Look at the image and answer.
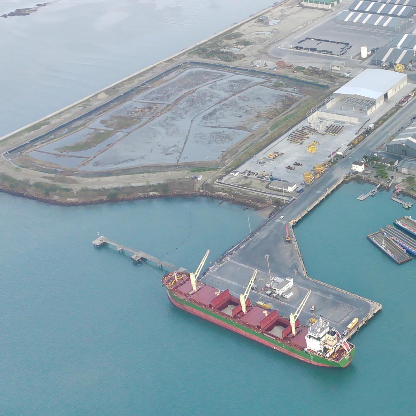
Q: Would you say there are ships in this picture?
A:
Yes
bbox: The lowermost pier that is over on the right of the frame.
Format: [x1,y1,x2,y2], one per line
[198,223,382,339]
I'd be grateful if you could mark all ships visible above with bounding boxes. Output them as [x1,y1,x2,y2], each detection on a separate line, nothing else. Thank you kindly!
[381,226,416,255]
[394,214,416,237]
[368,229,411,265]
[167,248,358,369]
